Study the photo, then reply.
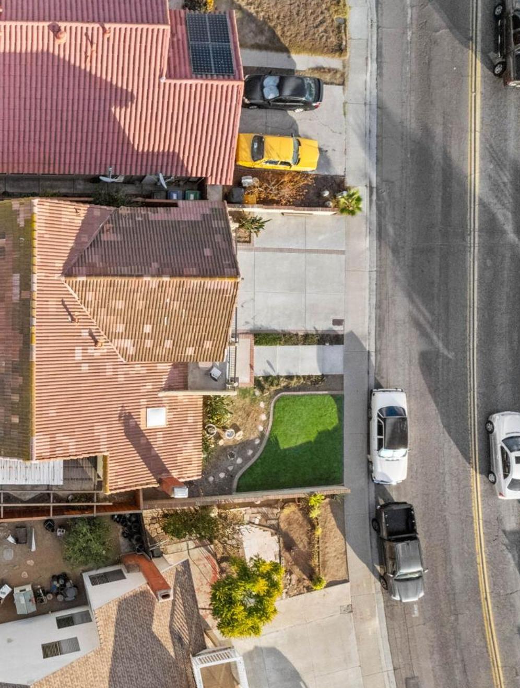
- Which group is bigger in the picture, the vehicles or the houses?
vehicles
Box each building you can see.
[0,197,243,502]
[0,0,245,185]
[0,542,205,688]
